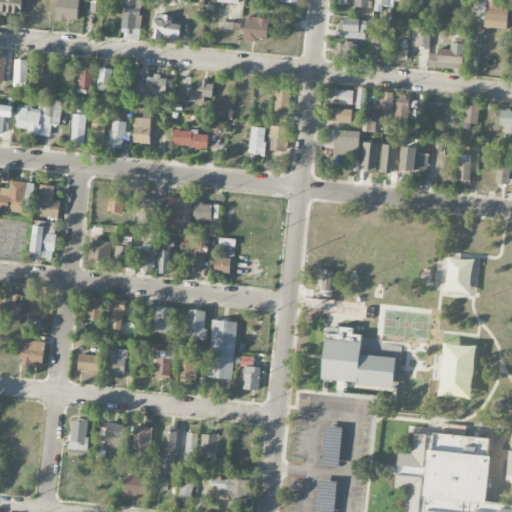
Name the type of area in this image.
residential area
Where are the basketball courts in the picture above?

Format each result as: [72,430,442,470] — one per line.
[377,304,432,342]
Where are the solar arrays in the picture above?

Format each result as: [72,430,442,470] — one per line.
[322,427,342,466]
[316,482,338,512]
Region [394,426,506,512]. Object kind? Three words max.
building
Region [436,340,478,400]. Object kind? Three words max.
building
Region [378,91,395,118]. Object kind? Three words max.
house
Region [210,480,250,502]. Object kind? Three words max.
house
